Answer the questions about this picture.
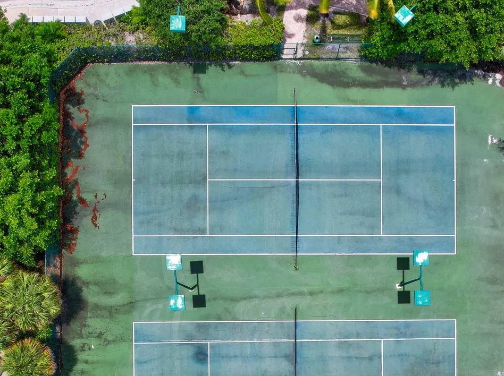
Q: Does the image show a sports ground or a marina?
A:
sports ground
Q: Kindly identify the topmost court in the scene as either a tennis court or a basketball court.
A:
tennis court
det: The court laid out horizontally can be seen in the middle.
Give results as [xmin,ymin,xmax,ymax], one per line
[132,105,456,255]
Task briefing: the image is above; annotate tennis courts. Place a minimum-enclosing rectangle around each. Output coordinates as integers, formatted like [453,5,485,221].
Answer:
[133,319,457,376]
[132,105,456,255]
